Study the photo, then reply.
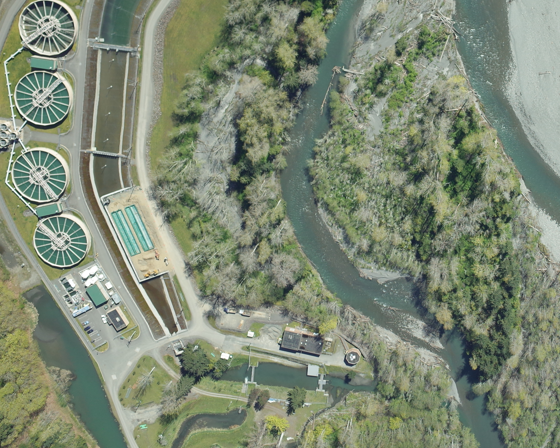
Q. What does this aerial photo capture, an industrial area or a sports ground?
industrial area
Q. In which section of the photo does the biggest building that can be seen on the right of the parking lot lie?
bottom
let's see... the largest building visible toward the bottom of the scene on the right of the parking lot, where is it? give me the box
[280,325,324,355]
